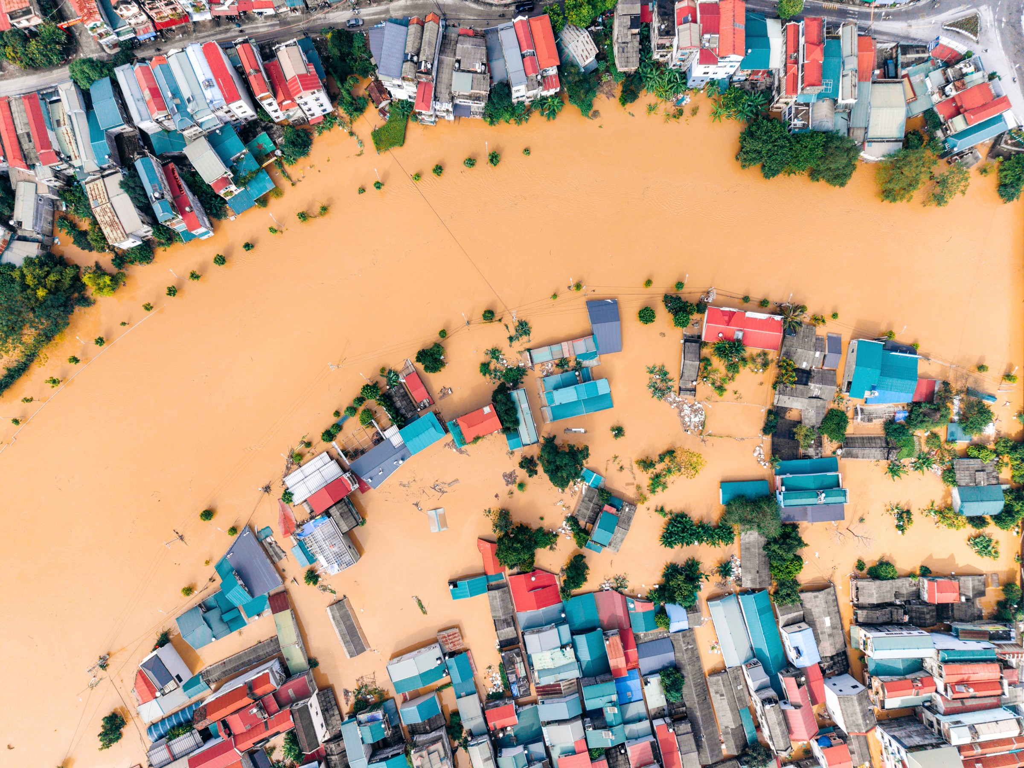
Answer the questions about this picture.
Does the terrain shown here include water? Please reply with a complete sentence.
Yes, there's water in this view.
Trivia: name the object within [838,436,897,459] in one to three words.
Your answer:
shed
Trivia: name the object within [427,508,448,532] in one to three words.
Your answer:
greenhouse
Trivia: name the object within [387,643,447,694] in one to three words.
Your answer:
building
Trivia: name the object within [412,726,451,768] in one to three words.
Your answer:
house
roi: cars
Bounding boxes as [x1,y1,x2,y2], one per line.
[515,1,535,12]
[344,16,364,27]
